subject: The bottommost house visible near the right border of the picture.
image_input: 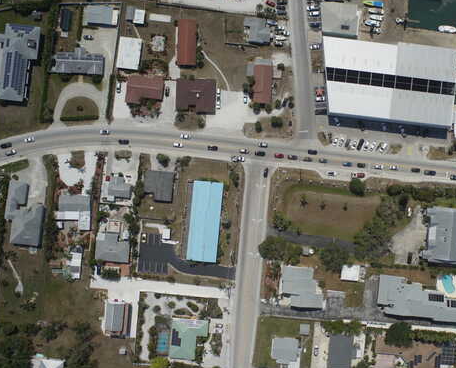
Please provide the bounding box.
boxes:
[374,333,440,368]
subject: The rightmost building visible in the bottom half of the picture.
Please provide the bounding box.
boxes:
[424,206,456,264]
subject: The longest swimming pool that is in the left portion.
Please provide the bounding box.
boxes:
[154,321,170,357]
